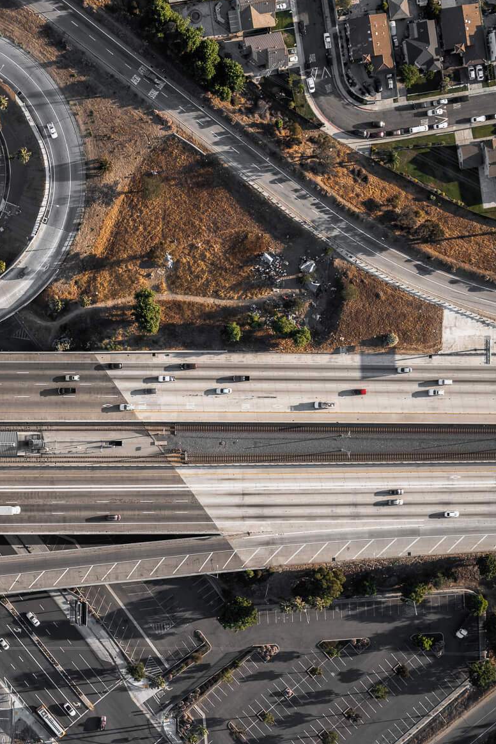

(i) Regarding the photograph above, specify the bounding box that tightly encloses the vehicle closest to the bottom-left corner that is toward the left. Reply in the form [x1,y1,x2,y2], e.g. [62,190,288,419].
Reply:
[35,701,65,738]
